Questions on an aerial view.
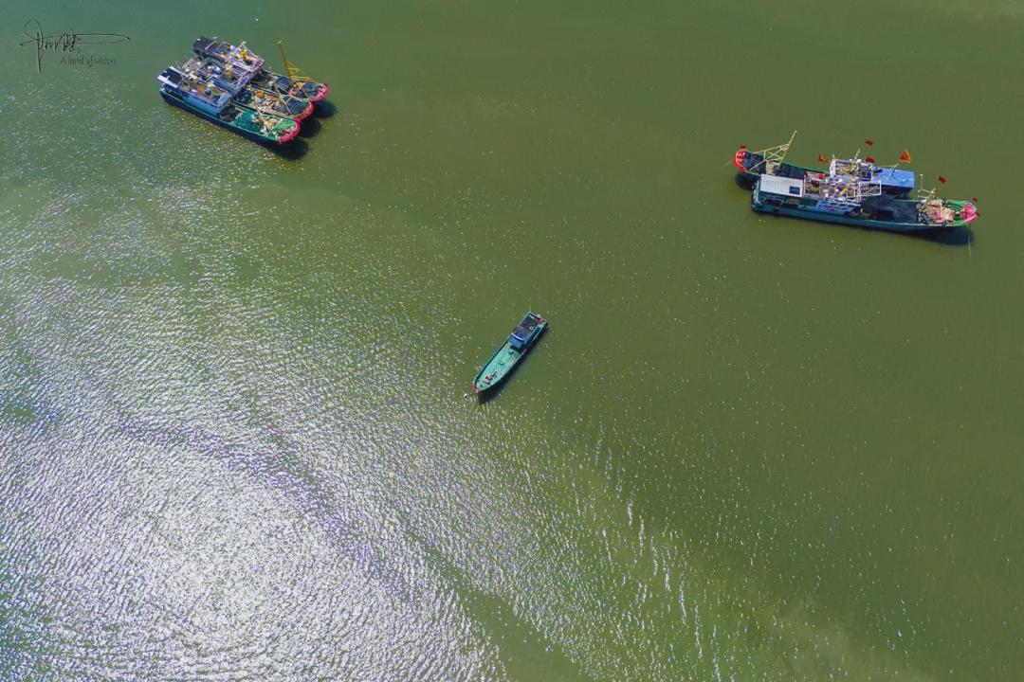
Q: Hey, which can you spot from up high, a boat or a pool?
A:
boat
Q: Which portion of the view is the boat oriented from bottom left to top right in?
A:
center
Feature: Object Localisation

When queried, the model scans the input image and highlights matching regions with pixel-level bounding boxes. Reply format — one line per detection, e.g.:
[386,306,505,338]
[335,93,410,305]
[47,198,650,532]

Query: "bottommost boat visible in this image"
[472,308,546,393]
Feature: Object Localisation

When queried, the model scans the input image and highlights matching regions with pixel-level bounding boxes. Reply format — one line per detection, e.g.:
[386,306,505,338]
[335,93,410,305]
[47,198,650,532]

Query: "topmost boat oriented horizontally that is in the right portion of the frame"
[701,129,916,197]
